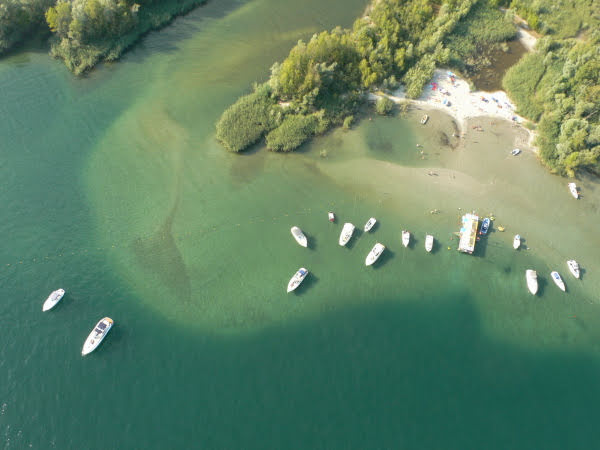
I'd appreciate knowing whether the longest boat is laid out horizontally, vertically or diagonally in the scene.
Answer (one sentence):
In this picture, the longest boat lies diagonally.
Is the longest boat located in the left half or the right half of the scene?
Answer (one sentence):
The longest boat sits on the left side.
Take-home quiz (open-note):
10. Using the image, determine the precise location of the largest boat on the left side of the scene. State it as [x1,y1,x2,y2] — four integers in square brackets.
[81,314,117,354]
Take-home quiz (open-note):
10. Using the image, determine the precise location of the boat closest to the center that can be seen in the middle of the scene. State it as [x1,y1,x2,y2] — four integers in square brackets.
[289,225,308,248]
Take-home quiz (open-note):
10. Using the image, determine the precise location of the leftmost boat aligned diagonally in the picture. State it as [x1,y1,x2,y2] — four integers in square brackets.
[42,288,68,311]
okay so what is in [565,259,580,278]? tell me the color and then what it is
white boat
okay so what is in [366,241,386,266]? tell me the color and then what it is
white boat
